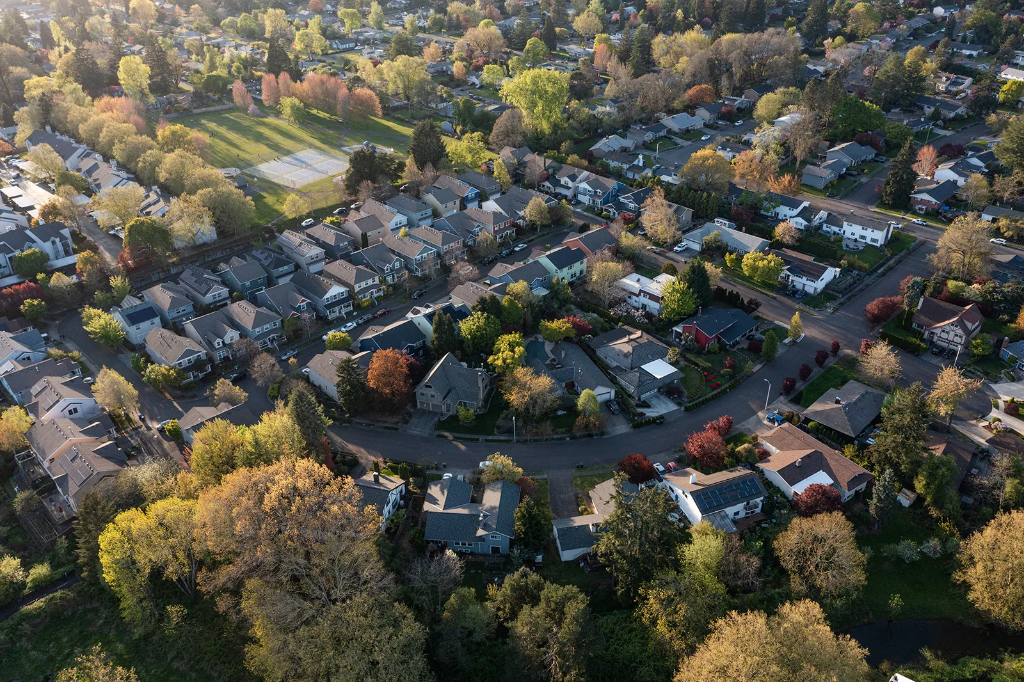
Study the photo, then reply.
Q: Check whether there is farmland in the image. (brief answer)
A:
No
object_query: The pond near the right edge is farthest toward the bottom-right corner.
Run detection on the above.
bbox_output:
[853,619,1024,670]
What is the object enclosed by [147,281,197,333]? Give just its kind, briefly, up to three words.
house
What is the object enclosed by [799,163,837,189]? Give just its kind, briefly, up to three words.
house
